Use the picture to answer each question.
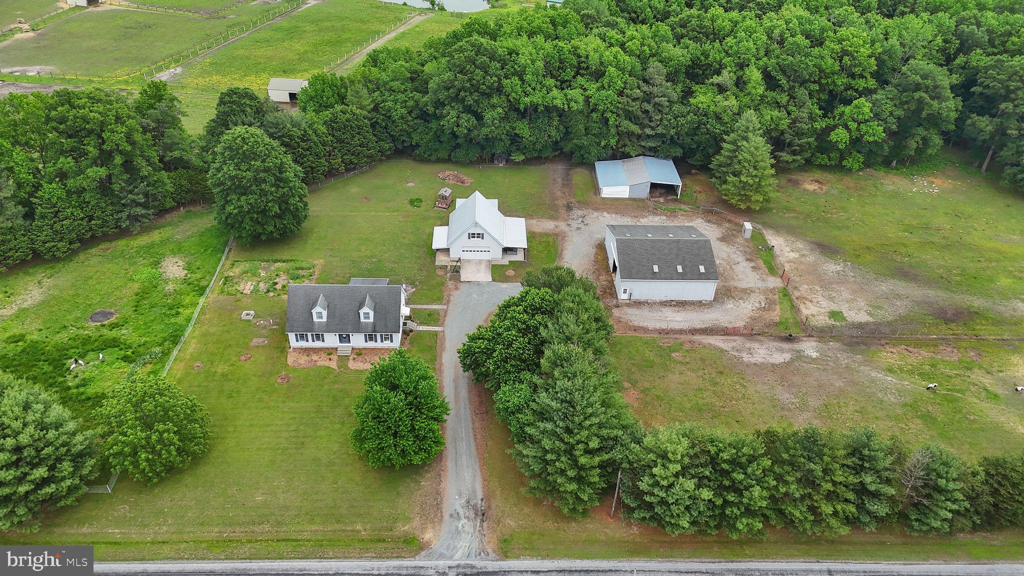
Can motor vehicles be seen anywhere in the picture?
No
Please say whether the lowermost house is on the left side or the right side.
left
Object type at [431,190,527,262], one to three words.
building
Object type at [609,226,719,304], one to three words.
barn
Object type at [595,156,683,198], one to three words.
shed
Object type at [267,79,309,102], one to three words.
shed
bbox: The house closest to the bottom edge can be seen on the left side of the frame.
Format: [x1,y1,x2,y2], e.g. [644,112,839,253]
[284,278,411,360]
